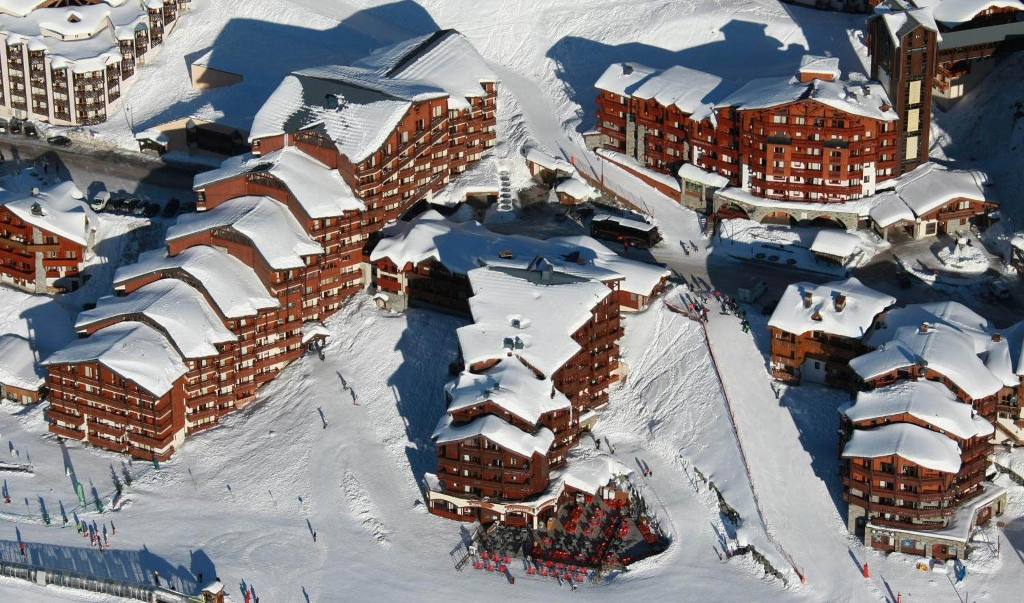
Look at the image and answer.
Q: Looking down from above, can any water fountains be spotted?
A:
Yes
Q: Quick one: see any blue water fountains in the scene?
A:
No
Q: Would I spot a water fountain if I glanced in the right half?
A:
Yes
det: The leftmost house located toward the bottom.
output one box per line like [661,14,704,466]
[0,332,45,423]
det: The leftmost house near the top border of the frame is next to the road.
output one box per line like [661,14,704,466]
[0,0,187,131]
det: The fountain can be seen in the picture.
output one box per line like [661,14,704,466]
[931,237,988,276]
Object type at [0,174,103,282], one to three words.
house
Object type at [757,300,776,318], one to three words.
car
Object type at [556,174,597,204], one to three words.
shed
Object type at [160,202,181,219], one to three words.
car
